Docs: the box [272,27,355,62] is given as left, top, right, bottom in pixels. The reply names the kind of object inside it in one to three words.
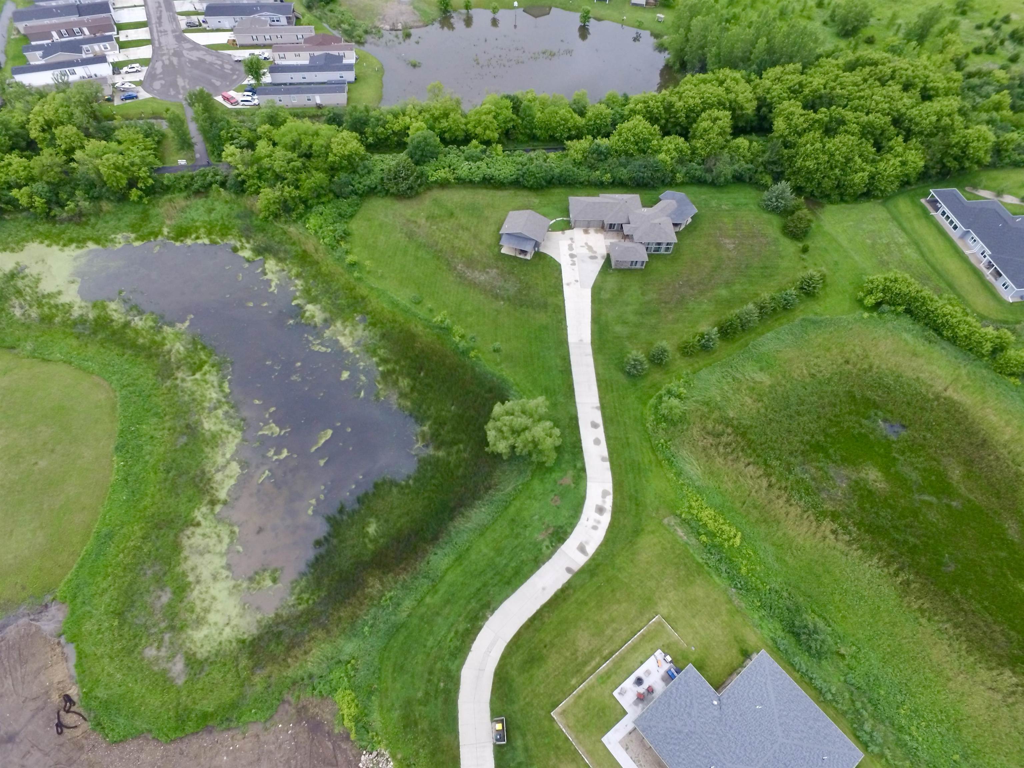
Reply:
house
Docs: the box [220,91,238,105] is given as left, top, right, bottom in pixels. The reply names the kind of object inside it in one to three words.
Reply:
vehicle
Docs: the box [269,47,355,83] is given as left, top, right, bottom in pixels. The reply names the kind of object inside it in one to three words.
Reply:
house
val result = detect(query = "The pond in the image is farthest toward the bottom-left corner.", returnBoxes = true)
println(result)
[0,244,415,612]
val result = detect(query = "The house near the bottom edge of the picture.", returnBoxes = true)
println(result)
[633,649,864,768]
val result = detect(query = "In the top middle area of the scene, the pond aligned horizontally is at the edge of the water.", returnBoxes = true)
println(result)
[342,8,671,117]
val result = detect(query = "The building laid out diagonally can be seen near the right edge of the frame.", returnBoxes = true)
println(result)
[925,188,1024,297]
